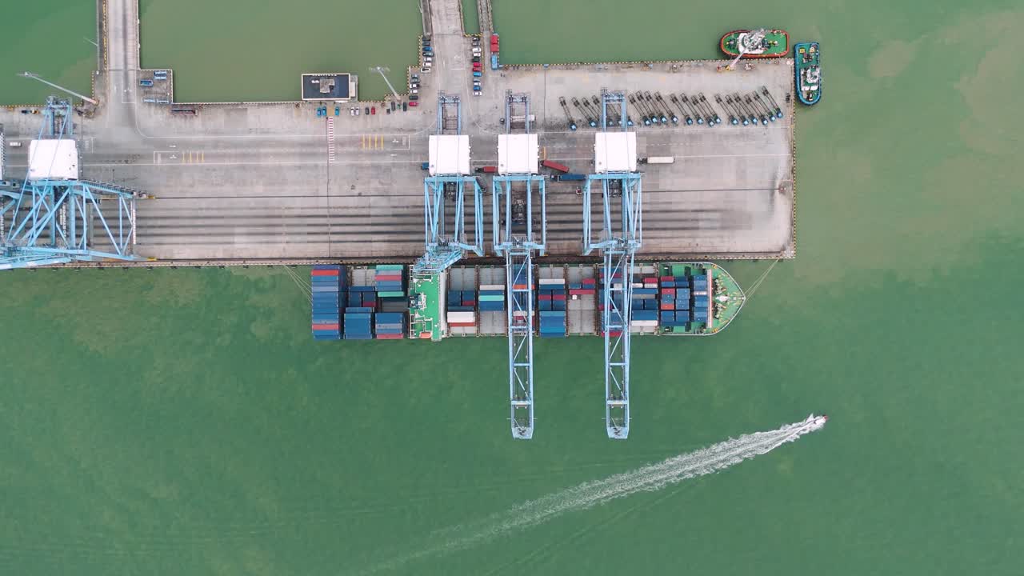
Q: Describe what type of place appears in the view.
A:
port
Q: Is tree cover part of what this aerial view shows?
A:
No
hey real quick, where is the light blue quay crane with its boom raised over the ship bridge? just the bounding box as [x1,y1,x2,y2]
[408,84,489,281]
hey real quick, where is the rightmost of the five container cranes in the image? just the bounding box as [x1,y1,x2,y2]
[573,82,645,437]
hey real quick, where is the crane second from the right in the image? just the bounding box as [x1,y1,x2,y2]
[490,83,550,438]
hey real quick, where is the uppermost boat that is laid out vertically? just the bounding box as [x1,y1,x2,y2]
[792,43,820,108]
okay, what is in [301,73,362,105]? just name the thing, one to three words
building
